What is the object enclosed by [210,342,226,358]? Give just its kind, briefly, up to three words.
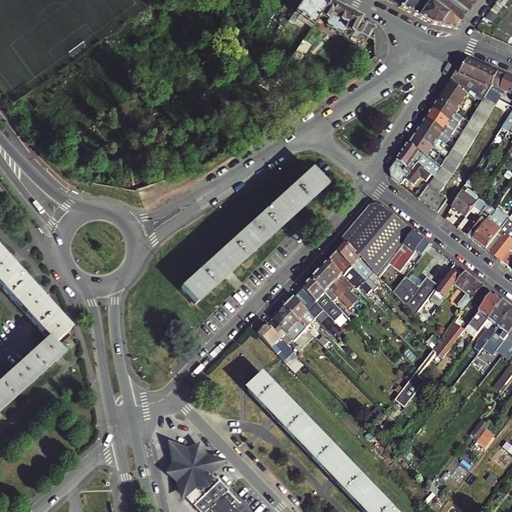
vehicle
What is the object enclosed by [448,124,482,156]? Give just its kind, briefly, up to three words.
building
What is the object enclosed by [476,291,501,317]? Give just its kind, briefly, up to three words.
house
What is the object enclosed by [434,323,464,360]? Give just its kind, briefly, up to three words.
shed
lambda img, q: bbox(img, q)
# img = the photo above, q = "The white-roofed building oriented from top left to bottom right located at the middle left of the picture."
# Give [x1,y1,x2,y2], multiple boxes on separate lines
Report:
[0,242,75,342]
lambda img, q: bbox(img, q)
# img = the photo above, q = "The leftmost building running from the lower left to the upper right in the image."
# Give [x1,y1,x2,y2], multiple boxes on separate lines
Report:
[0,334,67,413]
